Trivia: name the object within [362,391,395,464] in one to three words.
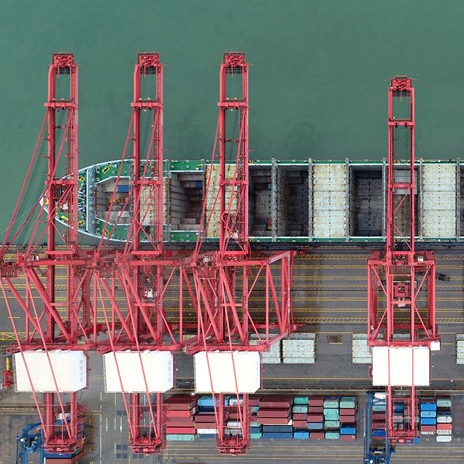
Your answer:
container crane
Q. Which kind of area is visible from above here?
port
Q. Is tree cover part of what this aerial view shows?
No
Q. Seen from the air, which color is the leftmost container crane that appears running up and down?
red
